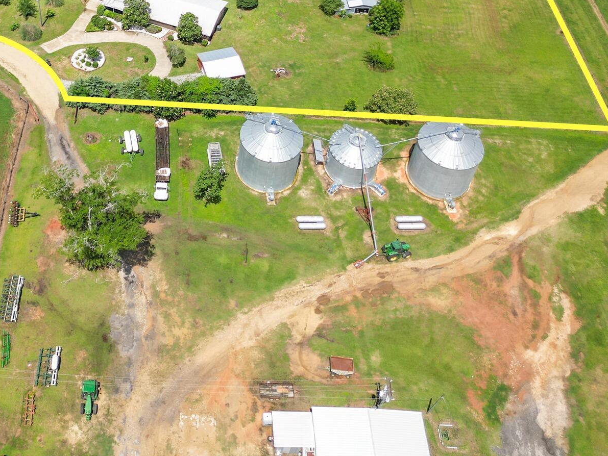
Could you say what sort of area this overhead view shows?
industrial area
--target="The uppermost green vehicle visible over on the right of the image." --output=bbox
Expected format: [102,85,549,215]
[383,238,419,263]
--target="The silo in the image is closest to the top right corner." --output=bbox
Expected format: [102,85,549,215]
[403,117,488,204]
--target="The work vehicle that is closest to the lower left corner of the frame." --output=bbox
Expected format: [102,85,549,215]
[79,382,101,423]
